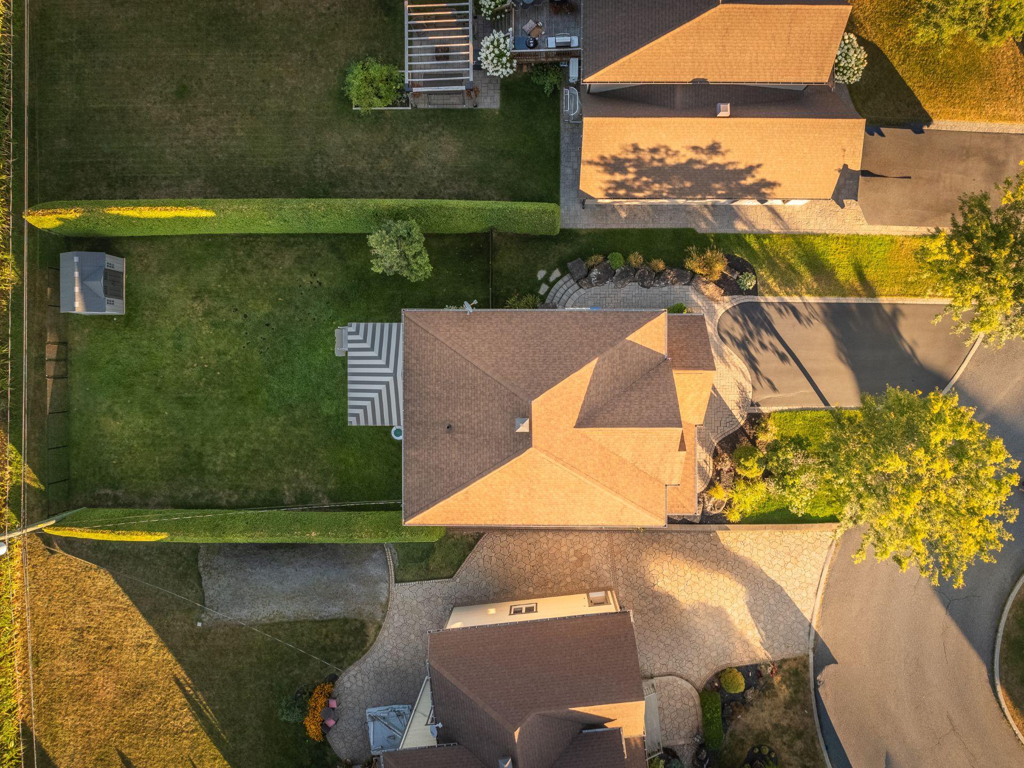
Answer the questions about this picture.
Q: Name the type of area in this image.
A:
residential area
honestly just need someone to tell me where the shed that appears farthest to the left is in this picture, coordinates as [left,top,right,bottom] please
[56,251,126,313]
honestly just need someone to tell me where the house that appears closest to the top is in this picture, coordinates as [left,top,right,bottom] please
[579,0,864,203]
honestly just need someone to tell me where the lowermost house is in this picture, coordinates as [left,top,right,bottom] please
[379,589,650,768]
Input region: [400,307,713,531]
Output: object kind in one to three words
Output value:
house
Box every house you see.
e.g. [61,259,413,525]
[579,0,864,203]
[379,589,650,768]
[400,307,713,531]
